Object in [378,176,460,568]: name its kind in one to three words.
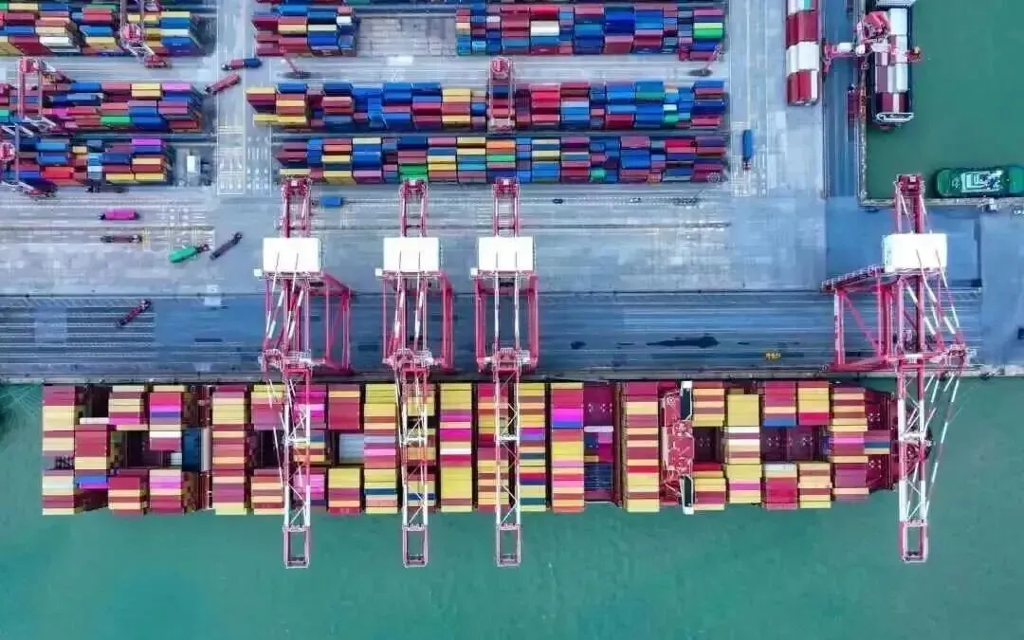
container crane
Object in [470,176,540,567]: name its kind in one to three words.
container crane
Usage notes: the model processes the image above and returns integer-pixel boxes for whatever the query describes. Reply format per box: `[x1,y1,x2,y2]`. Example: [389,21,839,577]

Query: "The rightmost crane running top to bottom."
[822,174,972,565]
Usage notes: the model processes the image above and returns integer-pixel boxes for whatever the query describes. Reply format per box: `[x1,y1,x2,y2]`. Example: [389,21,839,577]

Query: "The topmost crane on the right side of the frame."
[818,15,928,79]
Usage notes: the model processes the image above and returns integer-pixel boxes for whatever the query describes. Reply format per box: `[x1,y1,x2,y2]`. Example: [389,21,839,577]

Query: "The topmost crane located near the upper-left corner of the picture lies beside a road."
[119,0,173,75]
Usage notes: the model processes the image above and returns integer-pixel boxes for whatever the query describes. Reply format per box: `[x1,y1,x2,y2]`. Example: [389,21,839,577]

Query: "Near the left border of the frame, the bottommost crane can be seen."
[0,118,56,210]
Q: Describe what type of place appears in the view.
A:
port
